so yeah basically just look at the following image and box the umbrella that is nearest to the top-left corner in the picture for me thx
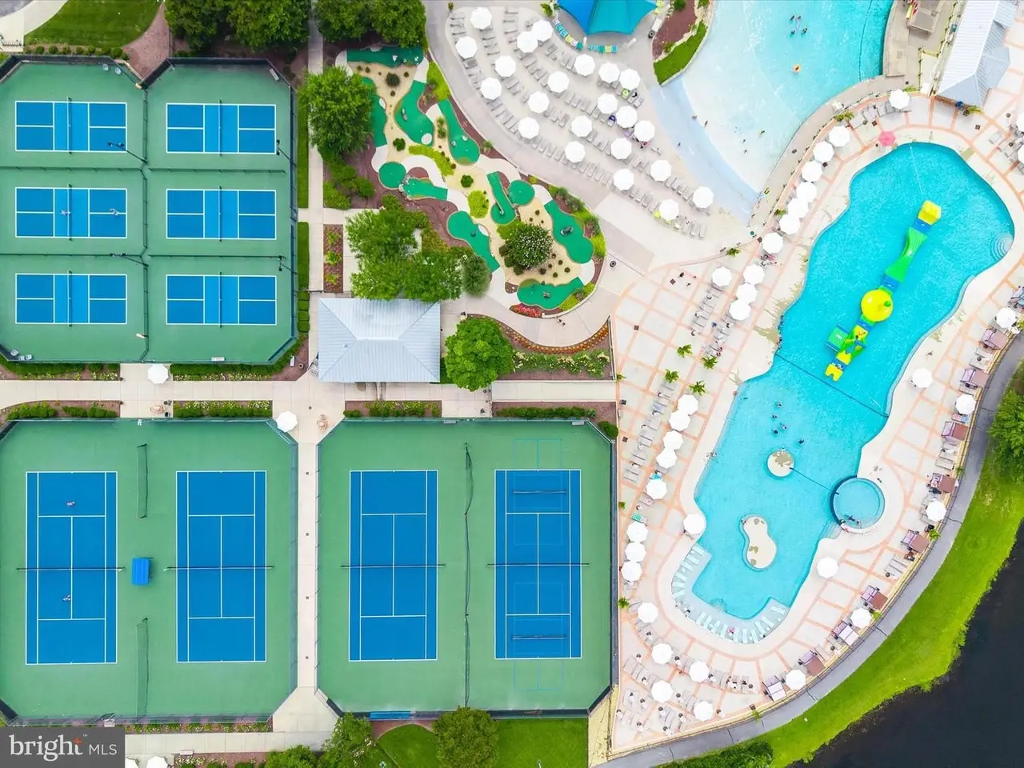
[149,363,171,384]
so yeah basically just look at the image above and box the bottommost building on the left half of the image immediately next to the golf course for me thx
[318,298,441,382]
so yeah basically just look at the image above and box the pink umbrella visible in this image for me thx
[873,130,895,148]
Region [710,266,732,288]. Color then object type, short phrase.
white umbrella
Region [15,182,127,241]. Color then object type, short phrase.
blue sports court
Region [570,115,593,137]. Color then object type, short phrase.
white umbrella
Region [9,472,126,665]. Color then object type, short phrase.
blue tennis court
